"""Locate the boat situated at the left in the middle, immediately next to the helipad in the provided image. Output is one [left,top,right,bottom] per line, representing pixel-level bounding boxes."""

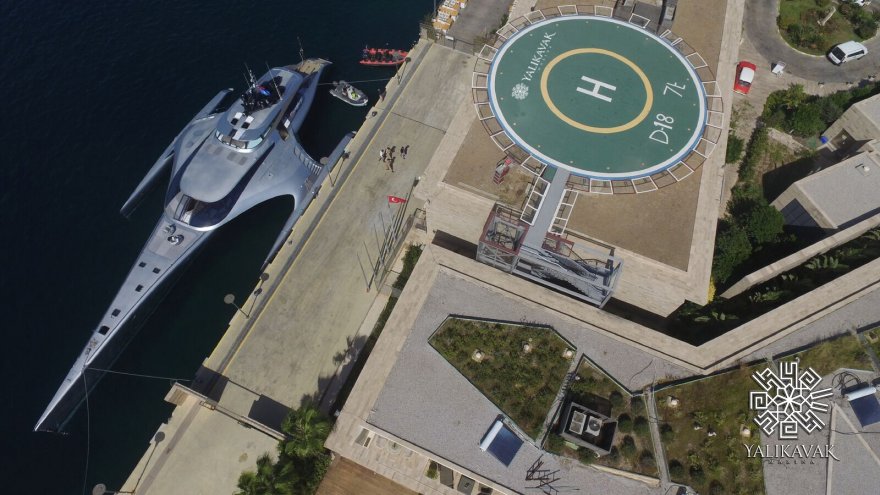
[31,41,358,431]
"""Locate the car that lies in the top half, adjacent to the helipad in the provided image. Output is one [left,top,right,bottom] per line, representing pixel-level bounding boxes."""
[734,58,760,95]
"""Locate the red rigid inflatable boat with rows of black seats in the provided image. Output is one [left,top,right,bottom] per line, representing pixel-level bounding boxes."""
[358,46,410,67]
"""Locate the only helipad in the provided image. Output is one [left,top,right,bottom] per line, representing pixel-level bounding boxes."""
[472,4,724,194]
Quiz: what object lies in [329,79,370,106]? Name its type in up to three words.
boat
